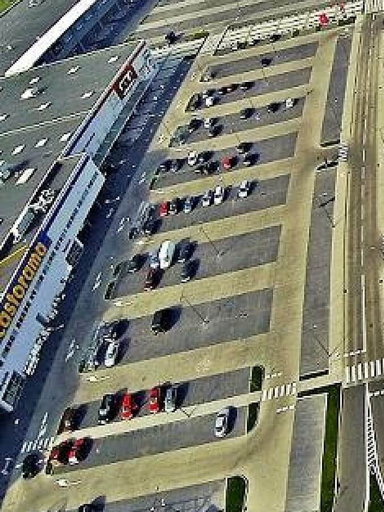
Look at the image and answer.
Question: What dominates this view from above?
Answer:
paved ground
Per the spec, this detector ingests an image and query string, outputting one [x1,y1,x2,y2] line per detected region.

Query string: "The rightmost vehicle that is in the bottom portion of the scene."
[212,409,231,441]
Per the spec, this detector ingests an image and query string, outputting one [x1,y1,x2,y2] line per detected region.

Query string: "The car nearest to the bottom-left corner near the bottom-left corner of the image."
[11,447,50,482]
